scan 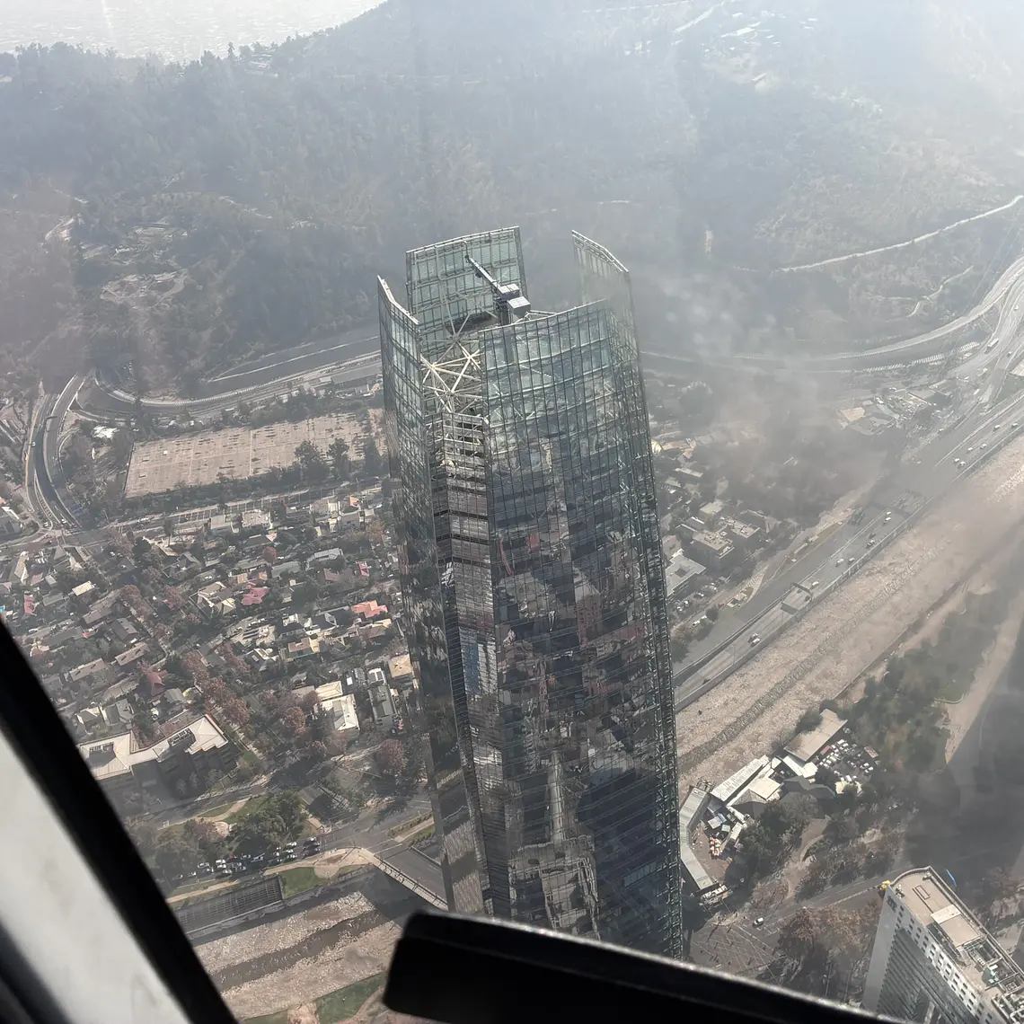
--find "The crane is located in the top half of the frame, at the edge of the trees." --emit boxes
[463,256,555,375]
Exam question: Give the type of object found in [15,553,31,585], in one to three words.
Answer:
house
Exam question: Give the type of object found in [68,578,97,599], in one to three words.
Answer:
house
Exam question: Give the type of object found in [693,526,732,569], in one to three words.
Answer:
building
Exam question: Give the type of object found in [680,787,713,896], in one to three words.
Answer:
building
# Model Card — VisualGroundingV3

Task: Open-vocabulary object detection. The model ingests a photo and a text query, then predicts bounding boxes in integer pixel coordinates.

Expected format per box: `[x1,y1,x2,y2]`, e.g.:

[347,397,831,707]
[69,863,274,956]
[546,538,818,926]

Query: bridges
[378,845,450,917]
